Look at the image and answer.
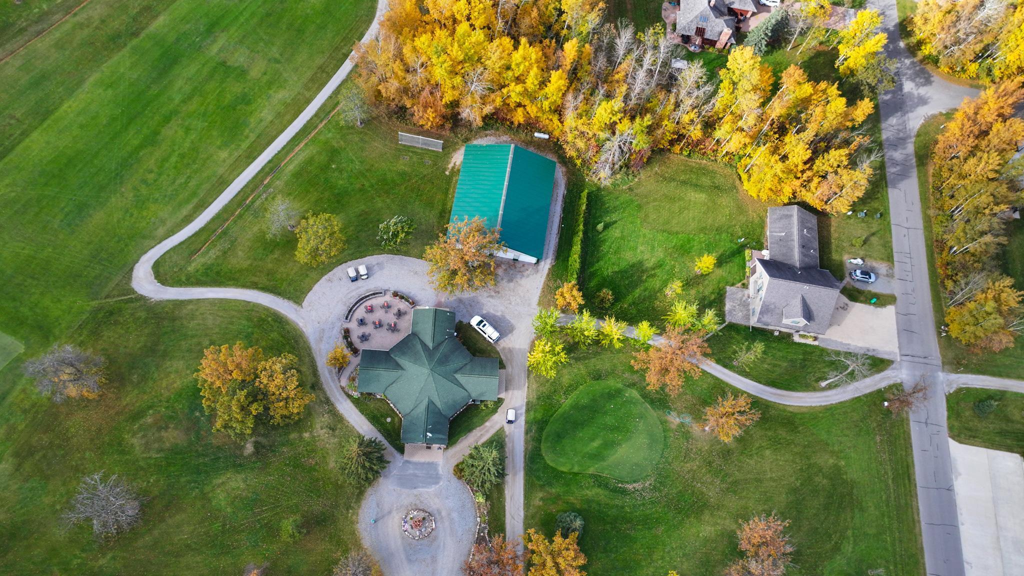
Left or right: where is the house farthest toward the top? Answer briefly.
right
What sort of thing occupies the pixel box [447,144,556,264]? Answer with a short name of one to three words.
shed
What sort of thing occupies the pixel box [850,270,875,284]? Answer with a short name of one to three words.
car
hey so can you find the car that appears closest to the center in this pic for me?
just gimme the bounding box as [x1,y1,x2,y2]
[470,316,501,346]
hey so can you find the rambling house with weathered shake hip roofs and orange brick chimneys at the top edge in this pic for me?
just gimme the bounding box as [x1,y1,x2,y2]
[679,0,754,56]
